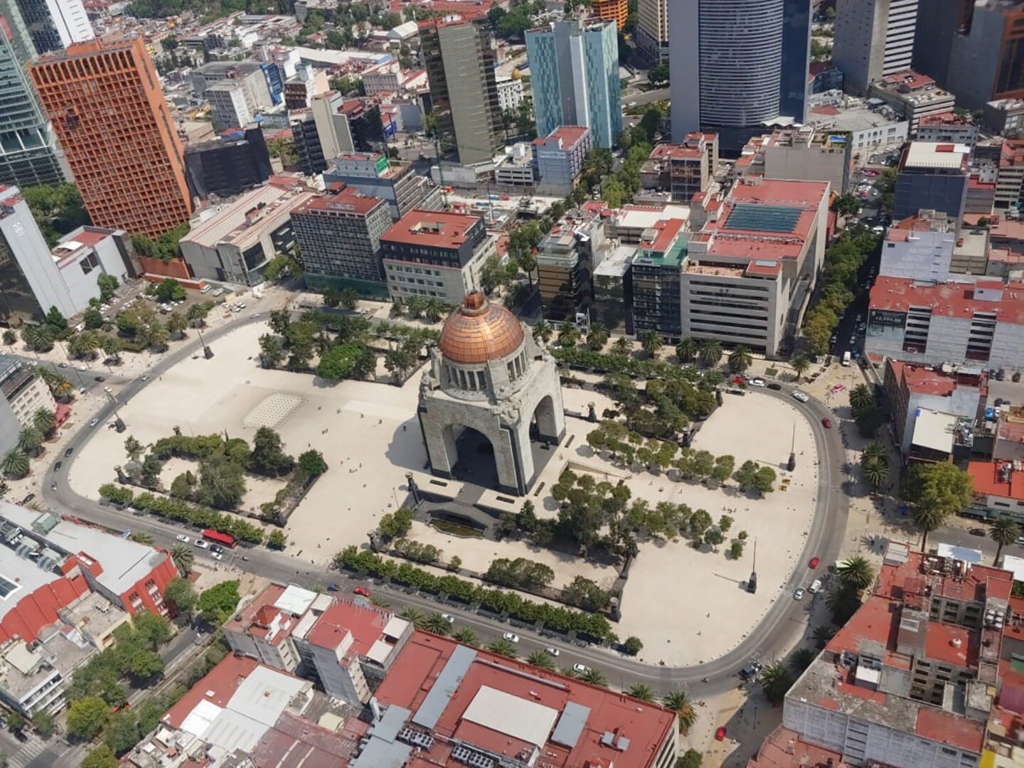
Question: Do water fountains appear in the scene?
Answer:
Yes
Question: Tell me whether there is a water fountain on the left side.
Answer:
Yes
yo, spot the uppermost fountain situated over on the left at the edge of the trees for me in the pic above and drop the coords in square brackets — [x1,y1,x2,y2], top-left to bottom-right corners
[242,394,304,429]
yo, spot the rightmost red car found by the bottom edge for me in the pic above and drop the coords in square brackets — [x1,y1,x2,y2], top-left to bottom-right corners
[714,725,727,740]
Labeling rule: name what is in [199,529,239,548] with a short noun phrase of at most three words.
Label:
vehicle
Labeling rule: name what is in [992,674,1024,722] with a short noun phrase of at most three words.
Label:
house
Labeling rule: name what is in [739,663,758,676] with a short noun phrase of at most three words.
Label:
vehicle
